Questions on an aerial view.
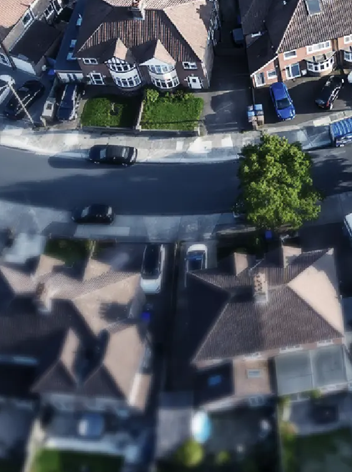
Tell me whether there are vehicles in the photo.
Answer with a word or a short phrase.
Yes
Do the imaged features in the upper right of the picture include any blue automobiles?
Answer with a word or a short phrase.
Yes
